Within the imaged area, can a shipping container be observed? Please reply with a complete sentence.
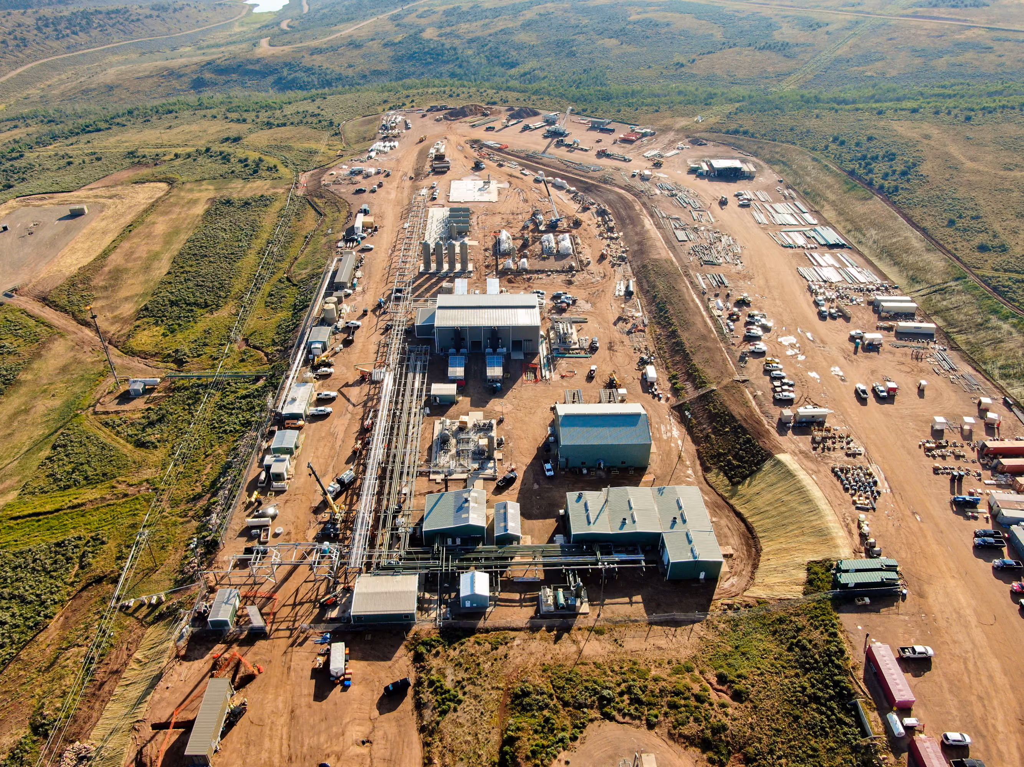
Yes, this view includes a shipping container.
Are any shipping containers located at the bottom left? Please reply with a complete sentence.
No, looking at the bottom left, there is no shipping container.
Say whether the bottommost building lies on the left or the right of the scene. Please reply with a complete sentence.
The bottommost building appears in the left half of the scene.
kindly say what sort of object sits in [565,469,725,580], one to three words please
building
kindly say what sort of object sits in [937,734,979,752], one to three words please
car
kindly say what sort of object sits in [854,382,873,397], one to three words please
vehicle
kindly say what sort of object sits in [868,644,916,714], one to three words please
shipping container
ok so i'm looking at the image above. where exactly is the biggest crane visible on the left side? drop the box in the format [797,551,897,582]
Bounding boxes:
[305,459,358,540]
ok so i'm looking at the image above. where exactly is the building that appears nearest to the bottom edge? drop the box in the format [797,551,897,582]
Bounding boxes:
[183,677,241,767]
